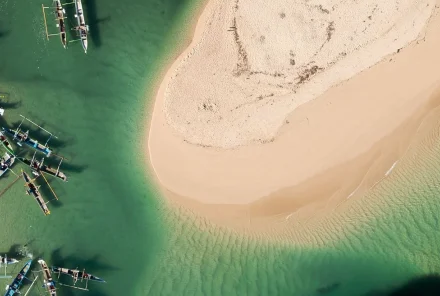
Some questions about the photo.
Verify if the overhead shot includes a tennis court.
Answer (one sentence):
No, no tennis court is visible in the scene.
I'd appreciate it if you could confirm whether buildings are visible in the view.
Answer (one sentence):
No, there is no building in the image.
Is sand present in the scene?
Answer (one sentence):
Yes, there is sand in the image.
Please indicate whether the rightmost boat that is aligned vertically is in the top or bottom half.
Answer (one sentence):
It is in the top half that the rightmost boat that is aligned vertically appears.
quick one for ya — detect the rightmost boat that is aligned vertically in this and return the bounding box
[62,0,90,53]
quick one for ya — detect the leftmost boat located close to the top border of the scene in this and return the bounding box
[42,0,67,49]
